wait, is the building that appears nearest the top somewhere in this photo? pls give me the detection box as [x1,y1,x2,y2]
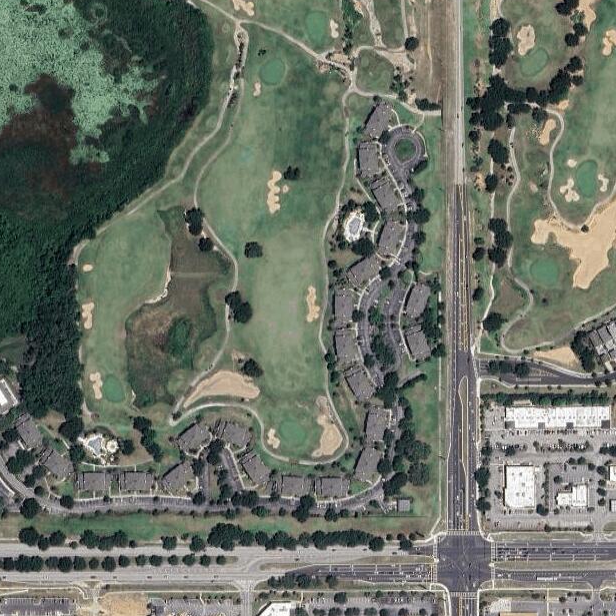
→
[362,97,395,139]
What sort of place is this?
golf course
